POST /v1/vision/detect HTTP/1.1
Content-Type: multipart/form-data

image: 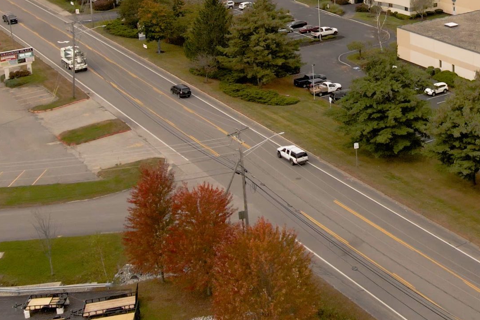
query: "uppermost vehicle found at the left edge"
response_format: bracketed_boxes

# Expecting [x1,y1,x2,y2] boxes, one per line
[2,11,18,23]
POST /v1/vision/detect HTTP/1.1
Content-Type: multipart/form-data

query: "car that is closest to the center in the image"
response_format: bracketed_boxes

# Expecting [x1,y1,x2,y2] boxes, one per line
[276,143,308,166]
